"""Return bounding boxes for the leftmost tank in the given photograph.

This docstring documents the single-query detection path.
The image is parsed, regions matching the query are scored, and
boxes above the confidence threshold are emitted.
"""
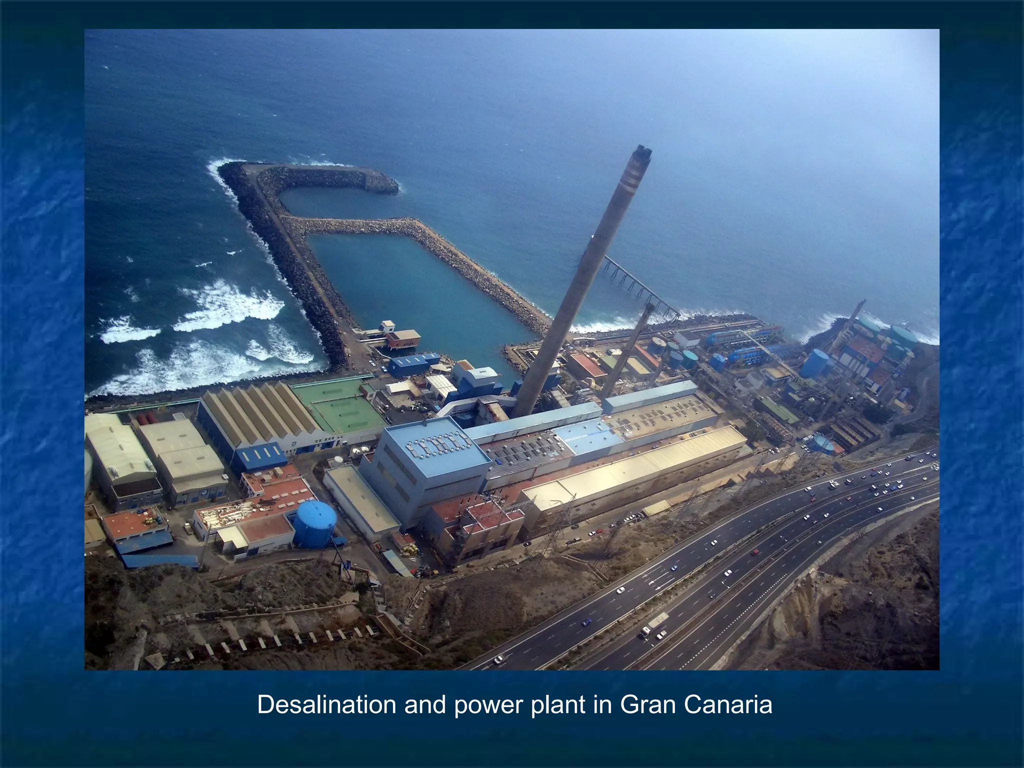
[45,444,93,493]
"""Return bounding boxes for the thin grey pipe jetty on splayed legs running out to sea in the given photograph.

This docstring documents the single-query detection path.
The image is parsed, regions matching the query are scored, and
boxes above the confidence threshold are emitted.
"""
[605,256,680,319]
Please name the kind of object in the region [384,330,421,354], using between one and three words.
house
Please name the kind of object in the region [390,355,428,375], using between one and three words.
shed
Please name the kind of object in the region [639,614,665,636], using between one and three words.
truck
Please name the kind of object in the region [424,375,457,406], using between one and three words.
building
